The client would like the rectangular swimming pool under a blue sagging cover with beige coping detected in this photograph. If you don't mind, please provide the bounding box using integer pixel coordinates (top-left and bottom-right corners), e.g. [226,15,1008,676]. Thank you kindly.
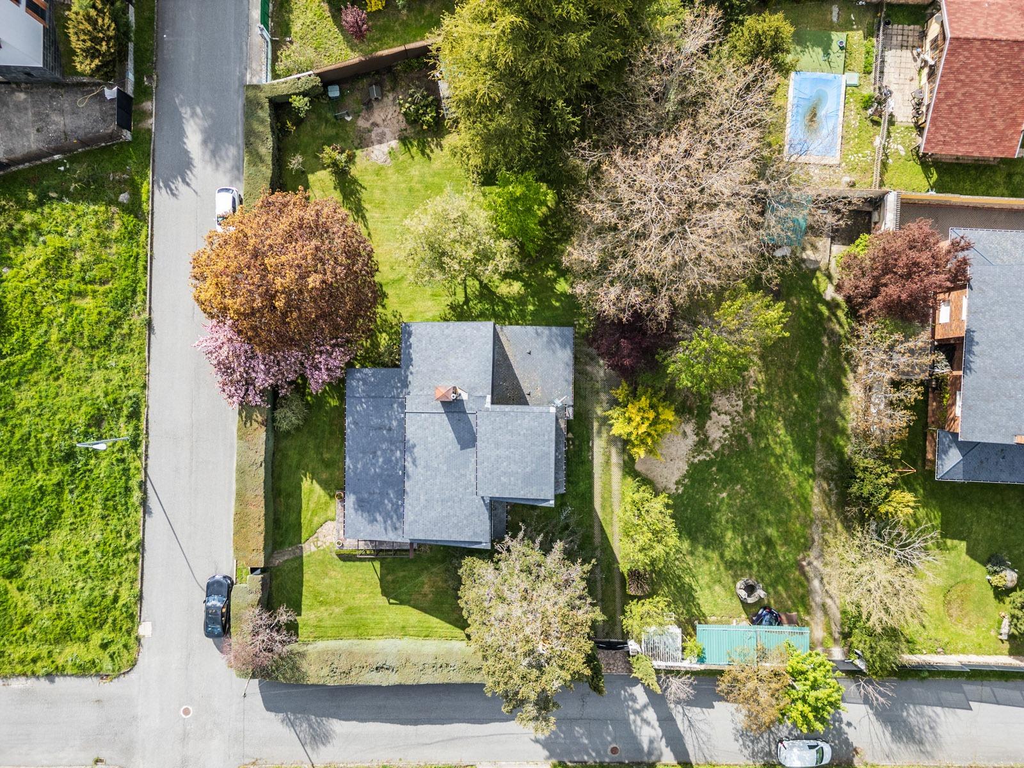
[785,69,846,163]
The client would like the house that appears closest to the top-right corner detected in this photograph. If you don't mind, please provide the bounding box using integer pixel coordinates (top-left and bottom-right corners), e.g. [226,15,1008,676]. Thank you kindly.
[919,0,1024,163]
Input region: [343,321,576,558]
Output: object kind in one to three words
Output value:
house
